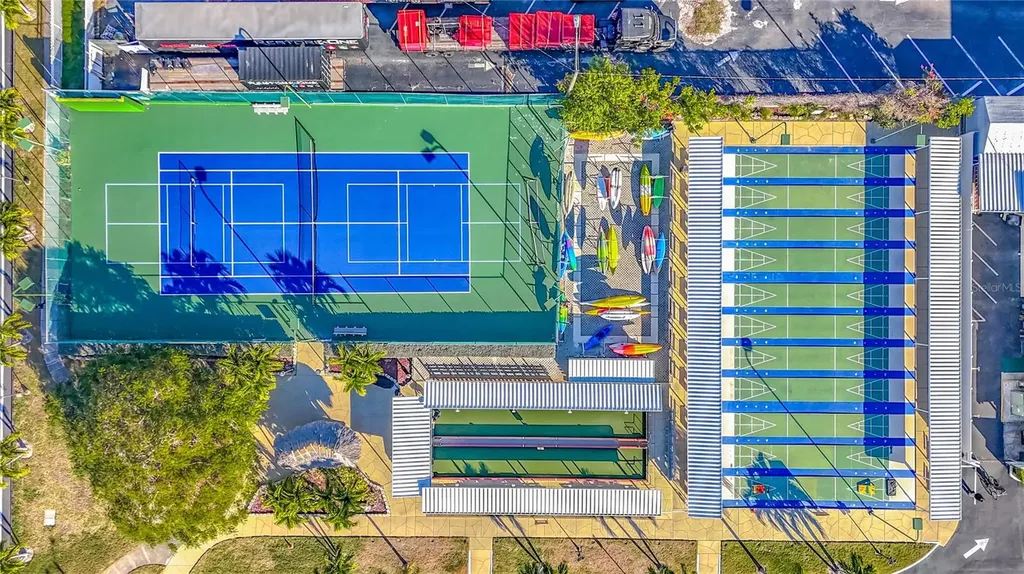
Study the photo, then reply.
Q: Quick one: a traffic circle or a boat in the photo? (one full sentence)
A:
Of the two, only a boat appears.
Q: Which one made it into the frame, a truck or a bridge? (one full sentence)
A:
This aerial view contains a truck.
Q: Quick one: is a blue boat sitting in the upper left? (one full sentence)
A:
No, no blue boat is visible in the upper left.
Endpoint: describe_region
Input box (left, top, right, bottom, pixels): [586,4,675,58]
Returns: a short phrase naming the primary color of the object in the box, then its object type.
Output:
gray truck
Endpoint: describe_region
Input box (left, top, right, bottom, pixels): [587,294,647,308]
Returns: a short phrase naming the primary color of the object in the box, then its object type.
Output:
yellow boat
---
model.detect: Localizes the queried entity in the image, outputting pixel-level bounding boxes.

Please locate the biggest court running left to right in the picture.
[61,95,559,343]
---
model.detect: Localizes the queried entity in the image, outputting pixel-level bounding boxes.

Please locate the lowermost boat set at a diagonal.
[586,325,612,349]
